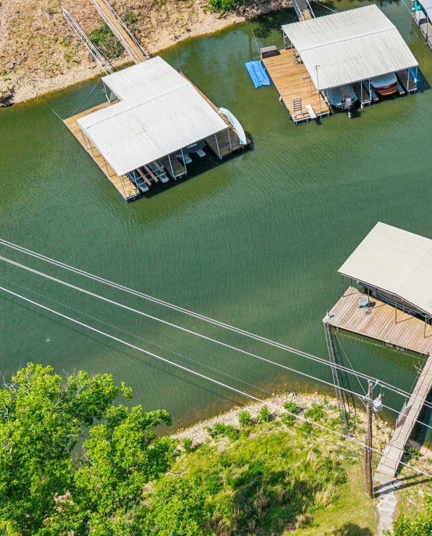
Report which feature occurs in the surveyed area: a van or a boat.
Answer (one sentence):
The one in the frame is a boat.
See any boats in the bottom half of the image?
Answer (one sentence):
No, there's no boat to be seen in the bottom half of the image.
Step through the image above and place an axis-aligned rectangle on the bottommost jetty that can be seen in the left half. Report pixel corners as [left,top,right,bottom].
[63,55,251,204]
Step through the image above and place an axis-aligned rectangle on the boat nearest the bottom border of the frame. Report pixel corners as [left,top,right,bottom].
[175,141,206,165]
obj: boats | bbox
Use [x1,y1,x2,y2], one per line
[175,141,206,165]
[322,85,353,112]
[365,74,396,99]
